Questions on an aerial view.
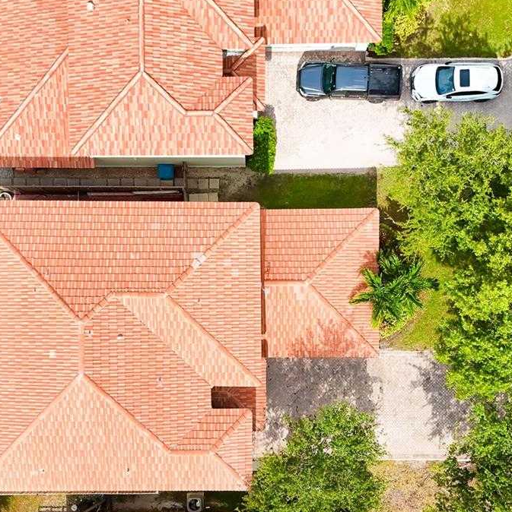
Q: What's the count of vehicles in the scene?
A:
2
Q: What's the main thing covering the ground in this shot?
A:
buildings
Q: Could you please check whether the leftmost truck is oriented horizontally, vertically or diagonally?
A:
horizontally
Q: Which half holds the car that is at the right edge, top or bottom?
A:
top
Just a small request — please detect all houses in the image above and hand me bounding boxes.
[0,0,384,169]
[0,198,381,494]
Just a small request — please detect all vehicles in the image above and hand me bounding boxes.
[297,57,404,105]
[410,57,504,105]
